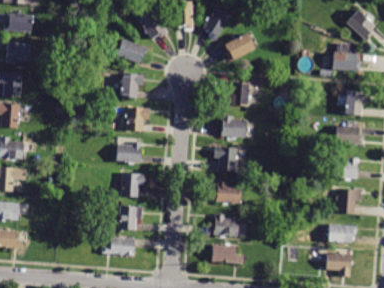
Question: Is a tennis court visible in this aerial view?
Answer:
No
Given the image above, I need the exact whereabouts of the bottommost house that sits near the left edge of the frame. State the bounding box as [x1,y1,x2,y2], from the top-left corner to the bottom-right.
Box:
[0,229,21,248]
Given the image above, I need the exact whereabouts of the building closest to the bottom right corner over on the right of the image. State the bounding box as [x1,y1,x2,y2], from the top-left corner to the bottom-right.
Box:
[327,248,355,277]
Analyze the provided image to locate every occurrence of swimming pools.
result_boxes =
[274,95,284,107]
[298,56,314,72]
